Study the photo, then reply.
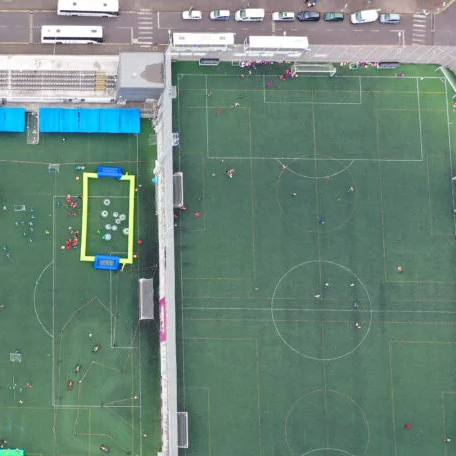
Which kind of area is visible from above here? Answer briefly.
sports ground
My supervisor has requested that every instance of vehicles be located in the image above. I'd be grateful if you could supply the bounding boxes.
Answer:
[208,9,230,21]
[236,8,264,22]
[182,10,202,21]
[381,12,403,24]
[170,33,236,52]
[348,9,378,24]
[56,0,121,18]
[40,26,105,45]
[296,9,321,22]
[242,36,310,55]
[272,10,294,22]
